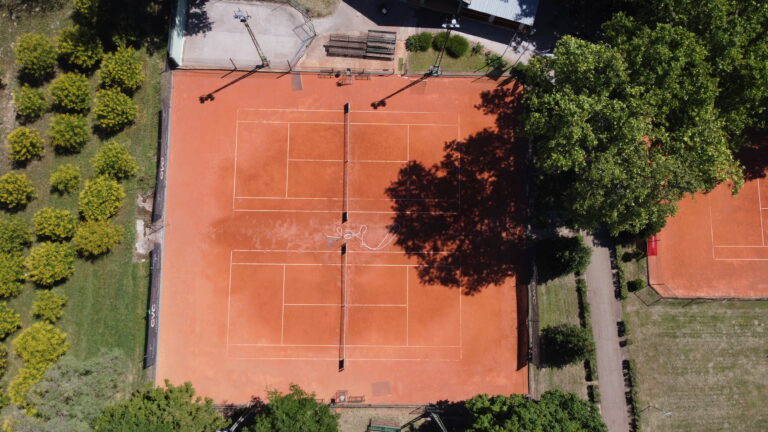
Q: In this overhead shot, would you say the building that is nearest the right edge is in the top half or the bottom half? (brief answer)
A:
top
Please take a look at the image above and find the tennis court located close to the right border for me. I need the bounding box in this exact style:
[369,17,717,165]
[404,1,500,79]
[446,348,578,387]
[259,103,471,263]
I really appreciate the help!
[640,116,768,299]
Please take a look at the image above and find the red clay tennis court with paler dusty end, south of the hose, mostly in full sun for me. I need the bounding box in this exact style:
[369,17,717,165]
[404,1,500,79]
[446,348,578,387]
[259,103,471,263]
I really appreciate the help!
[154,229,530,406]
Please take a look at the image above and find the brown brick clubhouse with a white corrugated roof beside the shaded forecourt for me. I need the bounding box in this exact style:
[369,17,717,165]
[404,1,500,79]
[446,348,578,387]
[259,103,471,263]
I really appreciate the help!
[458,0,539,38]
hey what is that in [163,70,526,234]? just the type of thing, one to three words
tennis court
